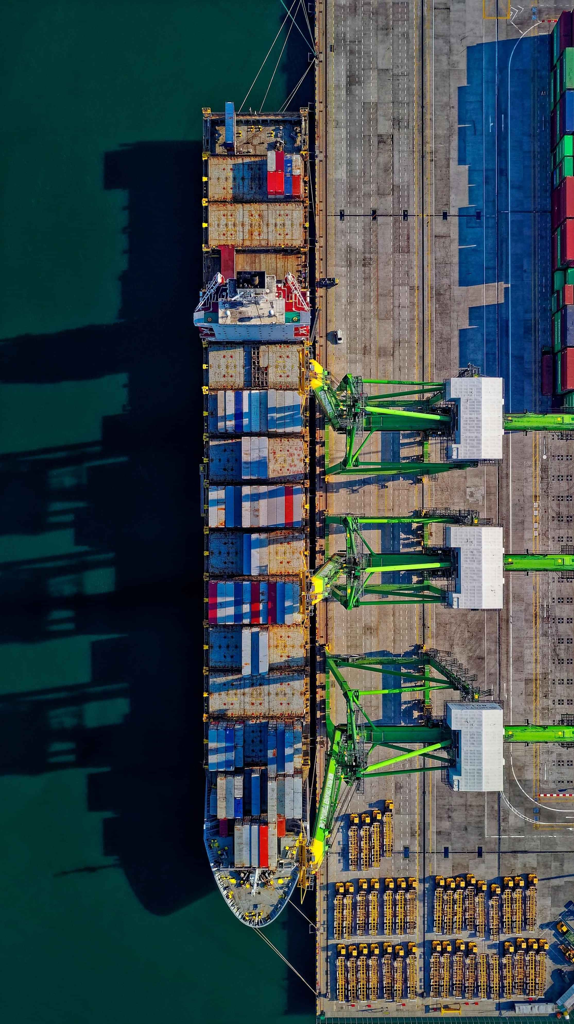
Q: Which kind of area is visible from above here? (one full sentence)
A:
This image shows a port.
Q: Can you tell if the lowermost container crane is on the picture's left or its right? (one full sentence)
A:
The lowermost container crane sits on the right side.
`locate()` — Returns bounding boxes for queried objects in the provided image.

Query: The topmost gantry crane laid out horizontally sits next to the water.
[296,343,574,484]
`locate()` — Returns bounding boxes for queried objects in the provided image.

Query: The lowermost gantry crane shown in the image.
[297,643,574,898]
